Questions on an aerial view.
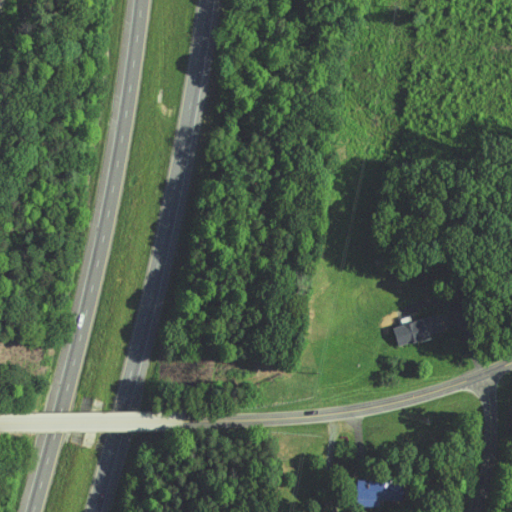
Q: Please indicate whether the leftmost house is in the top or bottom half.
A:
bottom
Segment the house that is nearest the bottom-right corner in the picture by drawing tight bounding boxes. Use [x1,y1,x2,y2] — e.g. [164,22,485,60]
[356,479,404,507]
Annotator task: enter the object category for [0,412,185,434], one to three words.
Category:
bridge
